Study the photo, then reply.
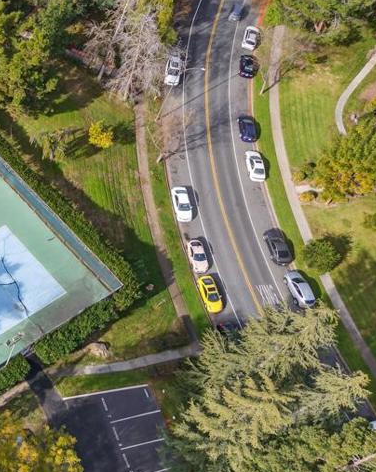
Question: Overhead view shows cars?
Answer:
Yes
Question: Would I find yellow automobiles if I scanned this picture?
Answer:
Yes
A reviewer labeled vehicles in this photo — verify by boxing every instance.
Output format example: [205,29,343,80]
[212,313,247,356]
[239,52,258,81]
[164,54,182,85]
[194,274,223,315]
[184,237,211,275]
[237,113,259,145]
[240,25,260,51]
[169,186,193,221]
[282,270,318,309]
[263,229,294,266]
[243,150,267,182]
[226,1,248,24]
